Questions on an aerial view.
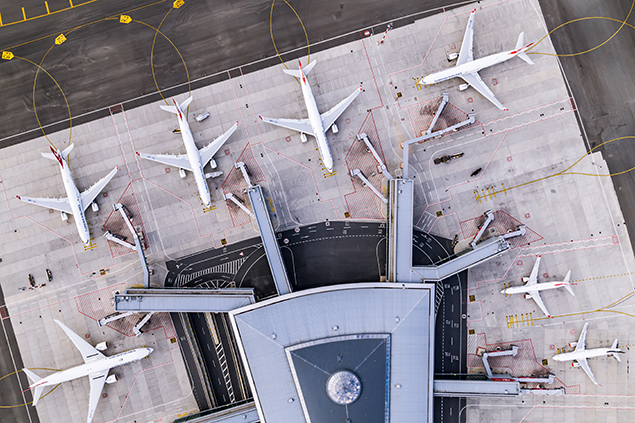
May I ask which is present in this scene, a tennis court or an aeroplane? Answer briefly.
aeroplane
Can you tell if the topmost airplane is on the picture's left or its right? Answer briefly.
right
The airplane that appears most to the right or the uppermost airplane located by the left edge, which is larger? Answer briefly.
the uppermost airplane located by the left edge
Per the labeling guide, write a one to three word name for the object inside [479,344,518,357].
jet bridge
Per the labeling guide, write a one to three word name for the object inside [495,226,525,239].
jet bridge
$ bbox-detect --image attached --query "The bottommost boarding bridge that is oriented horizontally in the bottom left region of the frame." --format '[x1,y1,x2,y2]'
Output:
[97,311,140,326]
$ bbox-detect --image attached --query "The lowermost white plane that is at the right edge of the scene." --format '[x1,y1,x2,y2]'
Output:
[552,323,628,389]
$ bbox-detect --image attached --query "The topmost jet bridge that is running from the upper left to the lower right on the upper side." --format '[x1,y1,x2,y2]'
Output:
[357,133,386,171]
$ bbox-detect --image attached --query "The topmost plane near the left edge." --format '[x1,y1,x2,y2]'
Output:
[12,141,118,244]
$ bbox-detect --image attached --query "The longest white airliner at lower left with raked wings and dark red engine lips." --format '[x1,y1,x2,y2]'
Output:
[16,320,154,423]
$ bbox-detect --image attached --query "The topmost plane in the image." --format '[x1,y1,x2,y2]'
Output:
[420,7,537,113]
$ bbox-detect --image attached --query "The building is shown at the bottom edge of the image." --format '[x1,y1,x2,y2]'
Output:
[229,283,435,423]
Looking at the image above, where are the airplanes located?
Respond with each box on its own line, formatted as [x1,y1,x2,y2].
[16,320,154,423]
[259,58,363,171]
[552,323,628,389]
[420,7,537,113]
[133,95,238,208]
[500,256,577,319]
[12,141,118,244]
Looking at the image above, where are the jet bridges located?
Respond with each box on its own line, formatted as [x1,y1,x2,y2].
[350,168,388,205]
[495,226,525,239]
[235,161,255,190]
[133,311,159,336]
[113,202,144,242]
[518,381,567,395]
[224,192,257,220]
[357,133,386,171]
[468,210,494,246]
[425,93,450,134]
[97,311,140,326]
[104,229,146,251]
[439,113,475,136]
[479,344,518,357]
